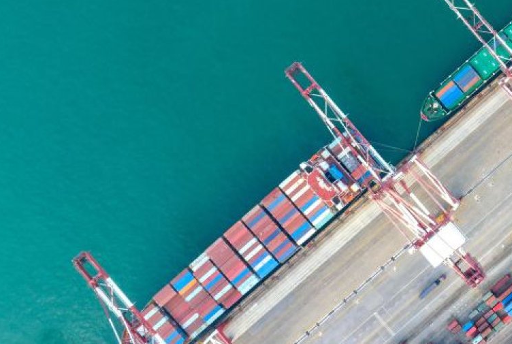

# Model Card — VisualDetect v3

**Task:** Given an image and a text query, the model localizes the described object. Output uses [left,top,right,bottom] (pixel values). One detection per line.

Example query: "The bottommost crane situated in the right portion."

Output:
[285,63,485,288]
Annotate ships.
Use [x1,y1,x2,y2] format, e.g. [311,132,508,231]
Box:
[114,125,391,344]
[422,18,512,120]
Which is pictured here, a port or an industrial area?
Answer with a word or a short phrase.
port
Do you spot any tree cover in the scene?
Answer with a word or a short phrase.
No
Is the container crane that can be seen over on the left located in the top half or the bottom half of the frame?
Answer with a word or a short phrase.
bottom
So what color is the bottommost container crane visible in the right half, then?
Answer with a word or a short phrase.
white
